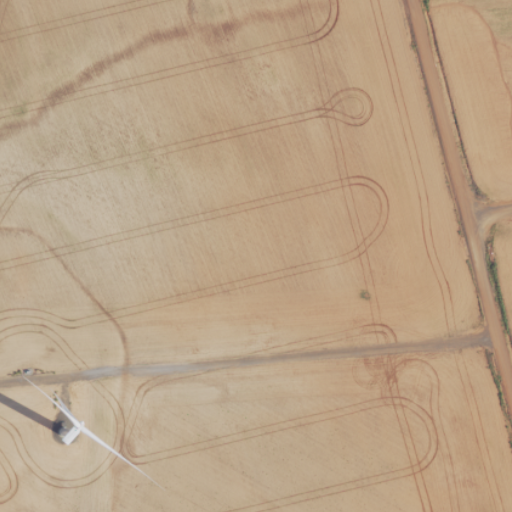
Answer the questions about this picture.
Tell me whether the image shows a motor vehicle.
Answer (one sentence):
No, I find no motor vehicle anywhere in the image.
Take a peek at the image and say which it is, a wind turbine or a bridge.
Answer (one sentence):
Of the two, only a wind turbine appears.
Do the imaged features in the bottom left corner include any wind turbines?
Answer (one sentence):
Yes, looking in the bottom left corner, one can make out a wind turbine.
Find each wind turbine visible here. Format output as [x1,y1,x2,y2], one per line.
[26,380,166,491]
